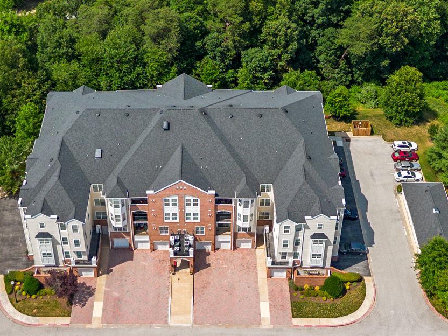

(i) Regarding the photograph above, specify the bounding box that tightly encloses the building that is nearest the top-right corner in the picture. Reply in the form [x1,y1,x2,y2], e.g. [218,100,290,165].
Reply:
[350,116,373,135]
